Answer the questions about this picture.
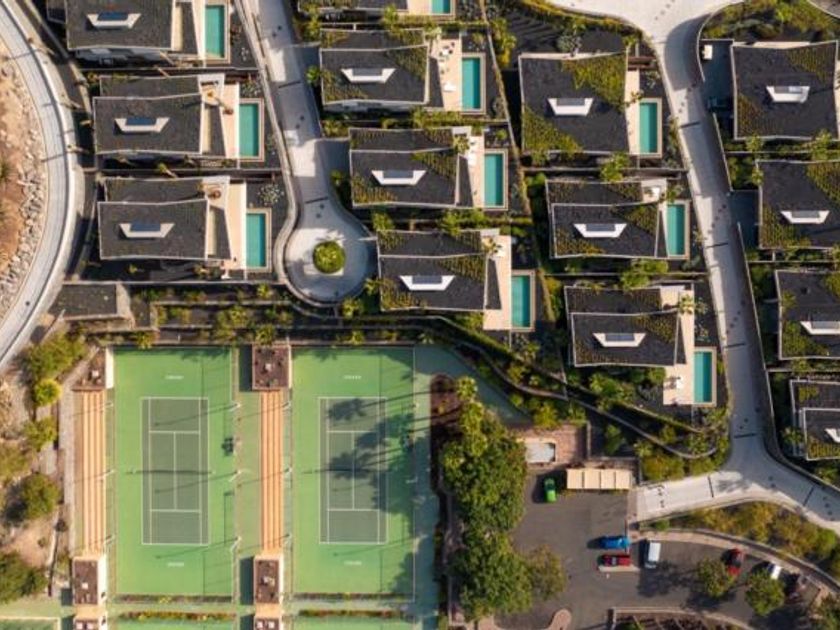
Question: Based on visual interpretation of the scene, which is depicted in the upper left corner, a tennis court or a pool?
pool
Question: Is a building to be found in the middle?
Yes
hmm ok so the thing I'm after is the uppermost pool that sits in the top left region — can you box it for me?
[205,0,230,62]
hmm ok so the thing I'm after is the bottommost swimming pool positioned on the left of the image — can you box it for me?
[246,208,272,272]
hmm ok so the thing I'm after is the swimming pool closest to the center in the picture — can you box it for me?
[509,270,536,331]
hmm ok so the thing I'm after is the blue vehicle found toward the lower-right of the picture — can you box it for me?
[600,535,628,550]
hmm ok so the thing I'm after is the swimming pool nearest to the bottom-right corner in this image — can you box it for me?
[692,346,717,407]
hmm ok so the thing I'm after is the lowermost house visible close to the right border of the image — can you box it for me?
[774,378,840,461]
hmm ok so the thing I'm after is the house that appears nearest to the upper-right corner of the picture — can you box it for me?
[722,38,840,144]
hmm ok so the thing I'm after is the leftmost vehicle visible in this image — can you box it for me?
[543,478,557,502]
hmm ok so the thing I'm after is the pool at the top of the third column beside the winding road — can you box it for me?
[639,98,662,158]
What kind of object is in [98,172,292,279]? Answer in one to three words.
house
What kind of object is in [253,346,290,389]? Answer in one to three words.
building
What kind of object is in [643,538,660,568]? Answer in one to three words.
vehicle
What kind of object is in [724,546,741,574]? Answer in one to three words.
car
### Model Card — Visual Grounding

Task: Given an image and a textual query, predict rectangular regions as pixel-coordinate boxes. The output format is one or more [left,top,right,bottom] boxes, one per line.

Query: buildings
[73,556,104,604]
[763,271,840,360]
[254,613,281,630]
[253,555,282,603]
[72,347,111,389]
[253,346,290,389]
[74,610,104,630]
[774,378,840,461]
[722,38,840,144]
[517,53,682,168]
[349,124,528,219]
[563,280,729,426]
[320,27,505,119]
[377,224,560,352]
[48,0,257,67]
[52,285,137,318]
[745,159,840,249]
[98,172,292,279]
[93,75,282,167]
[544,173,707,270]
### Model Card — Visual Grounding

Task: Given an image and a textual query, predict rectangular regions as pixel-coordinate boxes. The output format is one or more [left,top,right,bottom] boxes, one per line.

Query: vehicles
[543,478,557,502]
[699,44,712,63]
[781,571,805,599]
[643,538,660,568]
[724,546,741,574]
[600,535,628,550]
[599,552,632,568]
[763,557,781,585]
